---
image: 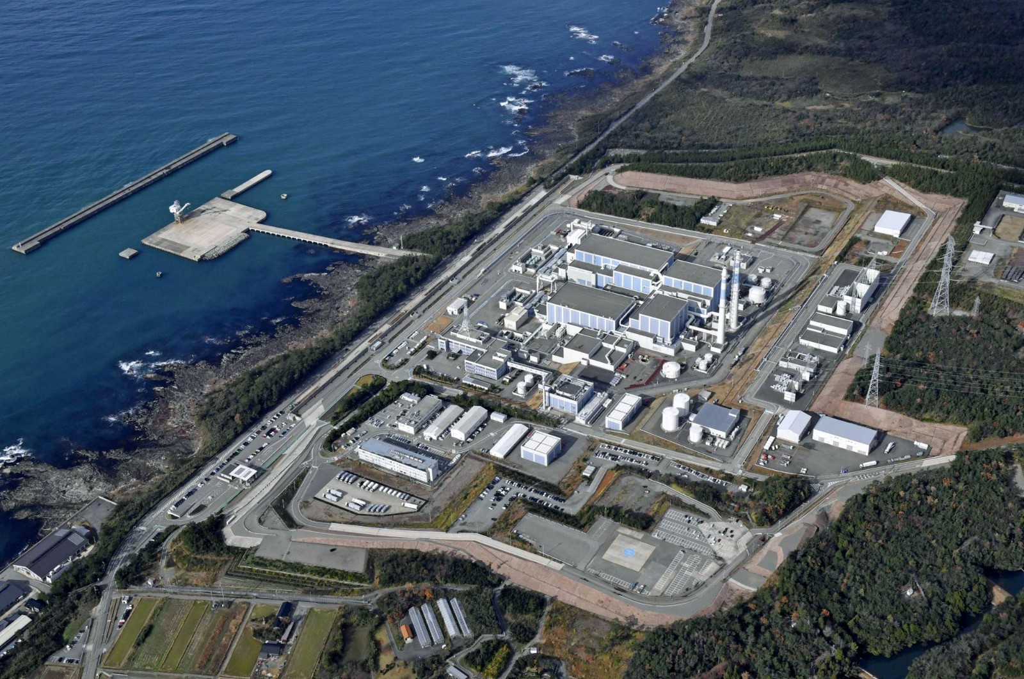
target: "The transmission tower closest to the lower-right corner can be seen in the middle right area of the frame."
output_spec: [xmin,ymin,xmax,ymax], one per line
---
[865,354,879,408]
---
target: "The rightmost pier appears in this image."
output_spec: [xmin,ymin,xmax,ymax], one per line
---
[235,170,272,200]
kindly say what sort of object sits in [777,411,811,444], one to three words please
building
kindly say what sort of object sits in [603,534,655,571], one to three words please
helipad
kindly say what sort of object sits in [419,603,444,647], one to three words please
greenhouse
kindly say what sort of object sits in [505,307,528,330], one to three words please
building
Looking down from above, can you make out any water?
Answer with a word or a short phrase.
Yes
